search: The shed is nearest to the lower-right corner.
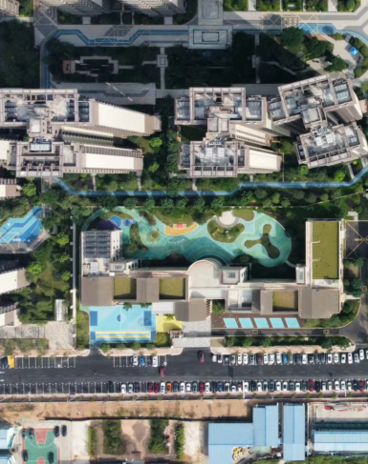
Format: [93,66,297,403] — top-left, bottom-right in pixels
[314,423,368,451]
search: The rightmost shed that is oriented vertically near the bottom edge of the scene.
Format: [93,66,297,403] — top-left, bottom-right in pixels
[283,404,305,462]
